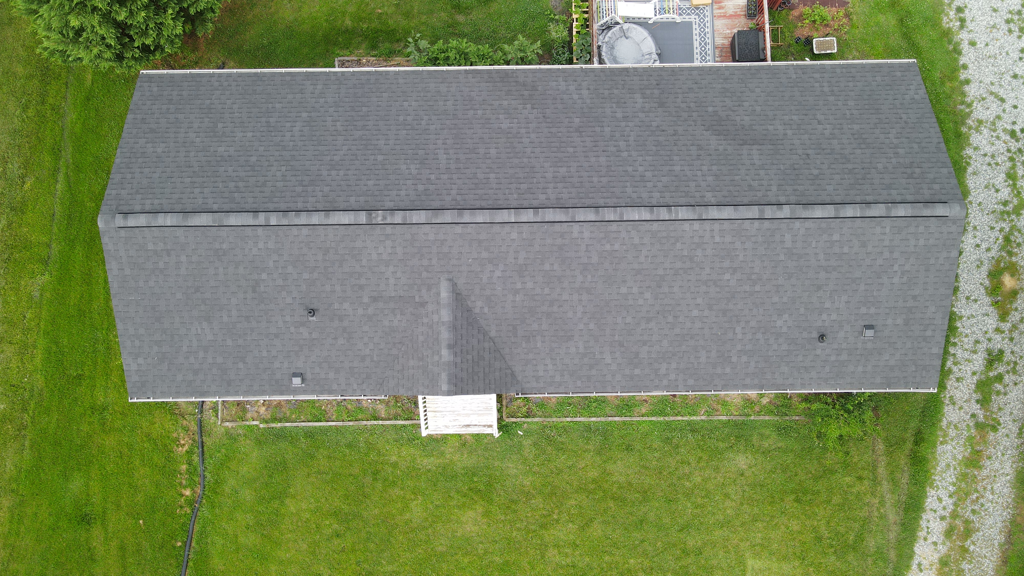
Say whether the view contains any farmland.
No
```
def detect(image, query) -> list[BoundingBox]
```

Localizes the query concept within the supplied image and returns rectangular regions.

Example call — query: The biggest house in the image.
[97,59,967,402]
